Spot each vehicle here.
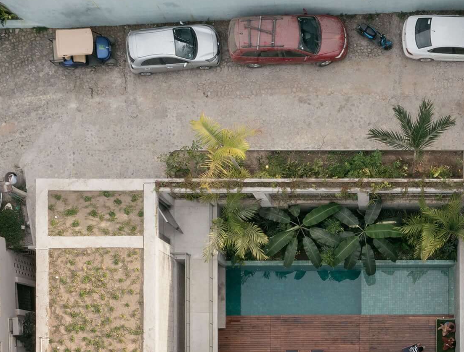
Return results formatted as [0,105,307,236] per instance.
[126,21,224,75]
[230,12,347,71]
[359,21,392,49]
[50,23,116,68]
[402,17,464,66]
